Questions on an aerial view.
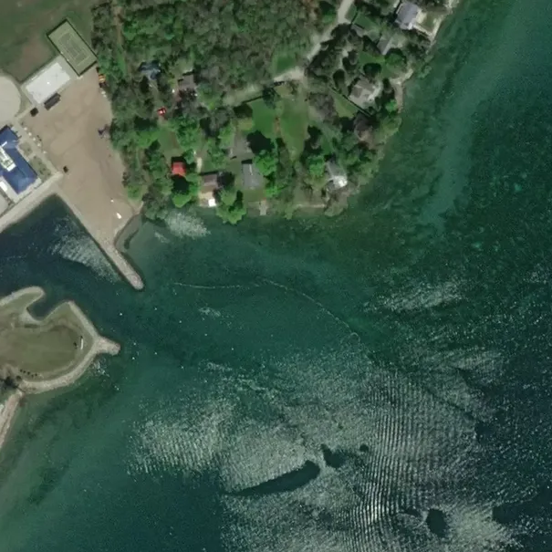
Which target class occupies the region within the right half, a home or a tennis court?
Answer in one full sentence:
What appears within the right half is a home.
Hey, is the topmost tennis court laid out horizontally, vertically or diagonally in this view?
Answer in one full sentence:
The topmost tennis court is laid out diagonally.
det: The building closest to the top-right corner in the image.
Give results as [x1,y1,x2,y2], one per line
[394,3,424,31]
